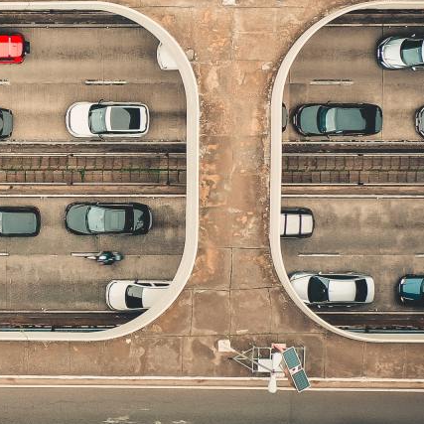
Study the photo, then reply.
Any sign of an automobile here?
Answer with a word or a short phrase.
Yes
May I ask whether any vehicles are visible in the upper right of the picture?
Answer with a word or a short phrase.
Yes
